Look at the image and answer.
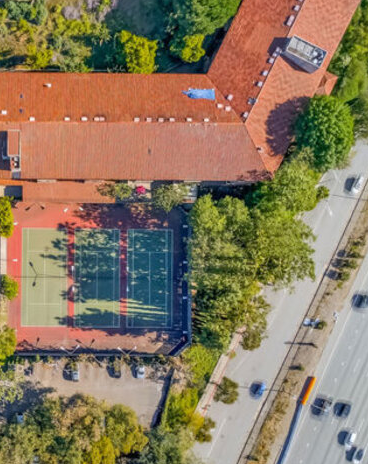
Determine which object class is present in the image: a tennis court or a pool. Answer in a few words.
tennis court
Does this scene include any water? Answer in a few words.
No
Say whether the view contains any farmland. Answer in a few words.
No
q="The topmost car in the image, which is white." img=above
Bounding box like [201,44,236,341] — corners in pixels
[348,174,364,195]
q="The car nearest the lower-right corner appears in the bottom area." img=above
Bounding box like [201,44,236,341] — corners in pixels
[350,445,365,464]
